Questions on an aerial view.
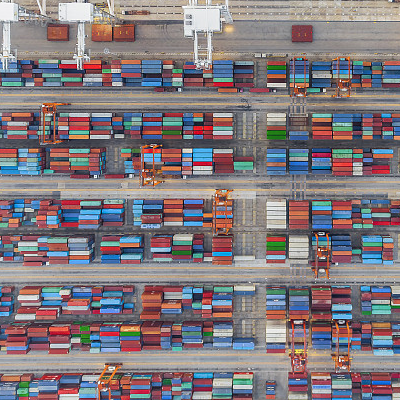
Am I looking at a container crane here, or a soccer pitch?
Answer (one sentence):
Visible in the photo is a container crane.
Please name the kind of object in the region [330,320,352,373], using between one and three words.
container crane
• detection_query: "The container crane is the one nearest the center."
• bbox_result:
[212,189,234,237]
